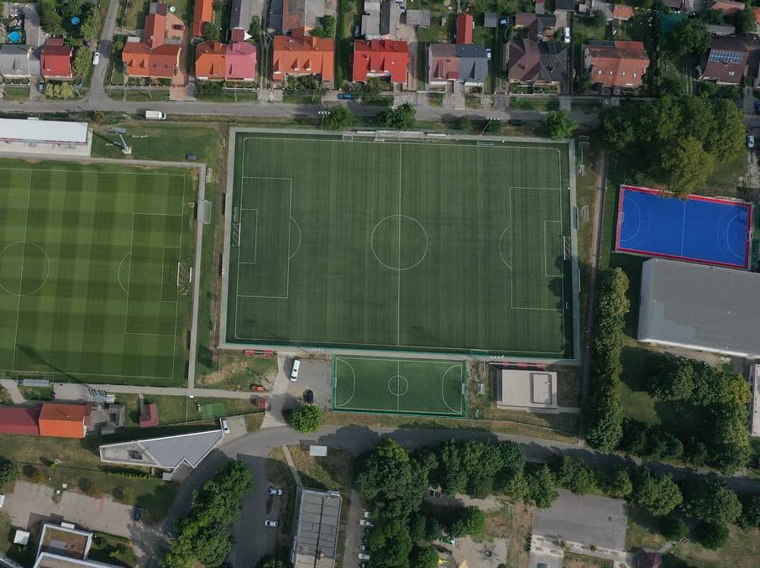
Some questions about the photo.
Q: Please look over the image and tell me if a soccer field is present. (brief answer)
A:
Yes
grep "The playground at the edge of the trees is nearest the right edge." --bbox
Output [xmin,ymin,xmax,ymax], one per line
[443,536,511,568]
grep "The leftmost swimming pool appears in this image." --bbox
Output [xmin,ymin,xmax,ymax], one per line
[8,30,22,44]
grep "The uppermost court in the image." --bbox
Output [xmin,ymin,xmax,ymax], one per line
[616,184,754,269]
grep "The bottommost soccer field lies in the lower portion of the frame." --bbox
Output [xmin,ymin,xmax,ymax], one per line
[330,354,467,418]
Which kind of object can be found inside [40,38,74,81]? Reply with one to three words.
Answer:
house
